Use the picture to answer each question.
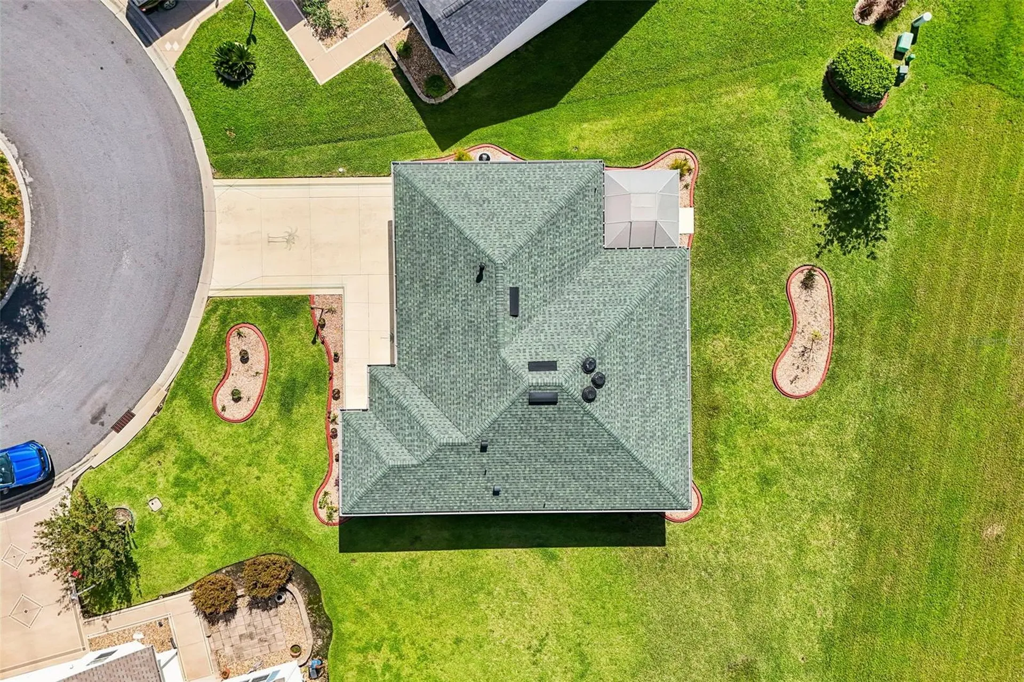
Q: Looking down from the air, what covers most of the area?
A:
grass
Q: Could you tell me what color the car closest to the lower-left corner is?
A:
blue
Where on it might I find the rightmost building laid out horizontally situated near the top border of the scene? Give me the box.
[400,0,593,90]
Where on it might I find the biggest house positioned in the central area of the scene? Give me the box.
[340,159,692,514]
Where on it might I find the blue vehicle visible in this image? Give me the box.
[0,441,59,494]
